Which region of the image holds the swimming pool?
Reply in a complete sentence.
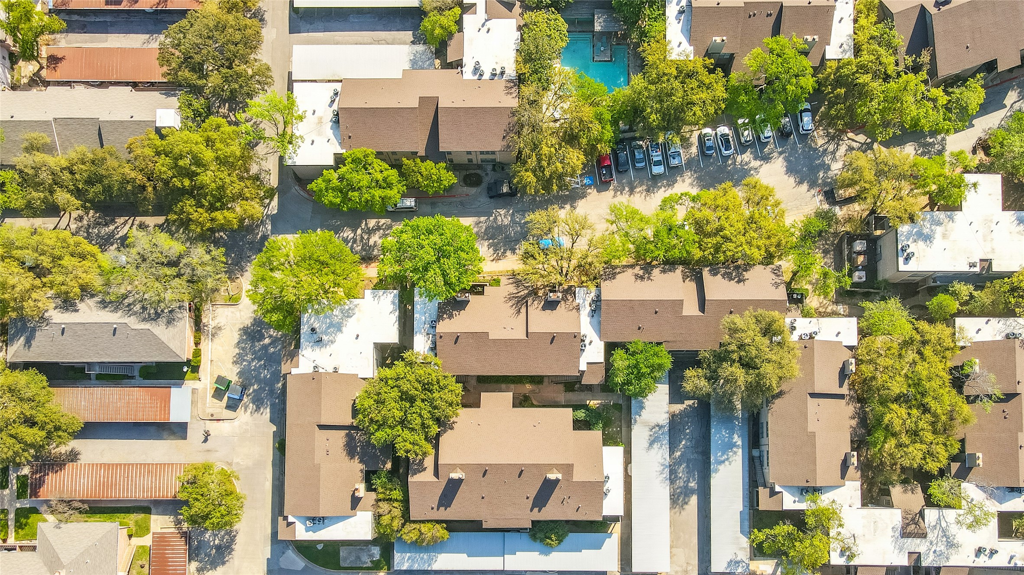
You can find the swimming pool in the top area of the picture.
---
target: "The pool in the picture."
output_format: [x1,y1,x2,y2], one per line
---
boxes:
[524,16,642,147]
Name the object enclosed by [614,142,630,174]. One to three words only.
car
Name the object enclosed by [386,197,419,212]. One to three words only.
car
